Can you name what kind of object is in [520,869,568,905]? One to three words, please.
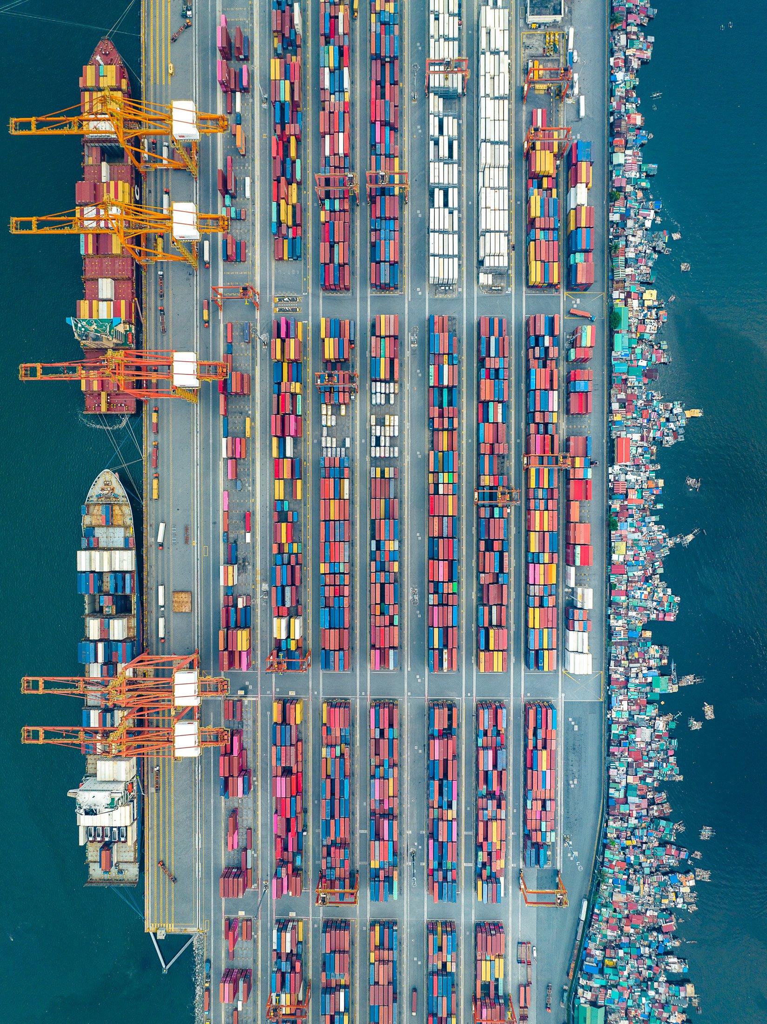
container crane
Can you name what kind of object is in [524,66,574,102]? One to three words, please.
container crane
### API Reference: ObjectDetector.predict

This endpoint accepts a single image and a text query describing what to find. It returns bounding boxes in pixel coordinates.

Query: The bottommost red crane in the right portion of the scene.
[472,992,518,1024]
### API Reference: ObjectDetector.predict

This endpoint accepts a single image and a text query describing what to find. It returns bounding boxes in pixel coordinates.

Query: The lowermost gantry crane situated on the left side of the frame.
[267,979,312,1019]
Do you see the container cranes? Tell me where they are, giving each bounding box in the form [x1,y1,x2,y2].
[267,648,311,674]
[474,486,520,507]
[520,869,568,905]
[521,450,572,472]
[367,170,410,204]
[20,349,229,408]
[524,66,574,102]
[426,57,471,96]
[317,369,360,393]
[22,644,230,708]
[20,694,230,760]
[472,992,518,1024]
[524,126,572,159]
[267,979,312,1019]
[8,192,229,274]
[9,90,229,187]
[317,172,360,206]
[317,869,359,905]
[213,284,261,312]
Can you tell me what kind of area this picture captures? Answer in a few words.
port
